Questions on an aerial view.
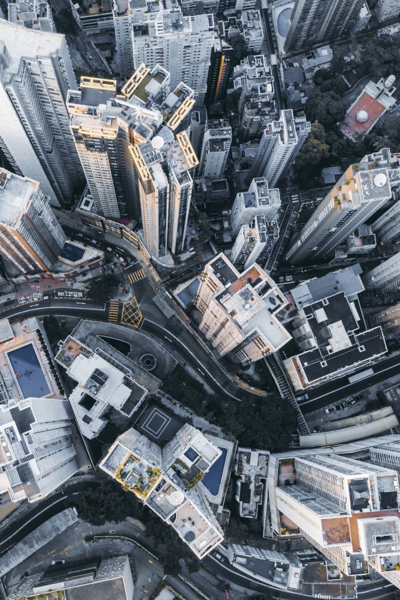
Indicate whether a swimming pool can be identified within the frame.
Yes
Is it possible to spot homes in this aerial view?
Yes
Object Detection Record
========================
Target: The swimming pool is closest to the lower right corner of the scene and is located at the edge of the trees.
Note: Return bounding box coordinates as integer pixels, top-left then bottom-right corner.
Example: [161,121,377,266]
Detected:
[196,446,229,498]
